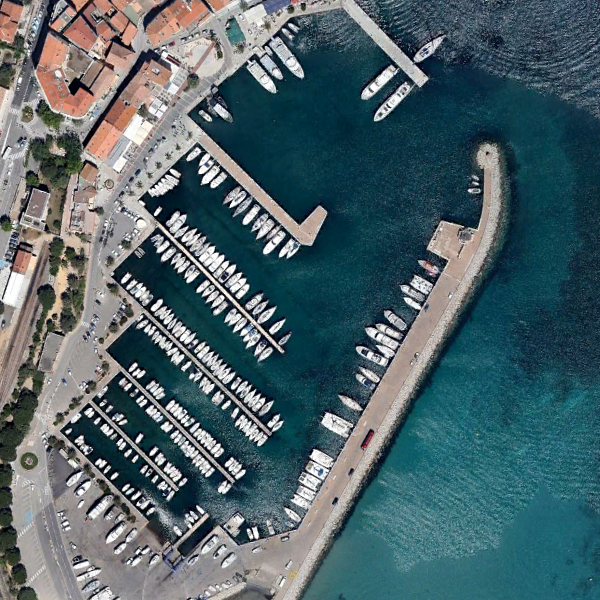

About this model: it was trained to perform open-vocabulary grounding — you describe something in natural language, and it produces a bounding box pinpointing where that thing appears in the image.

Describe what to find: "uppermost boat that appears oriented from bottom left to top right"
[412,35,447,64]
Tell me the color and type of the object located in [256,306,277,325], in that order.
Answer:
white boat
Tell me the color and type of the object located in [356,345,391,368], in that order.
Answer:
white boat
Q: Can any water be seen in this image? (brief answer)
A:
Yes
